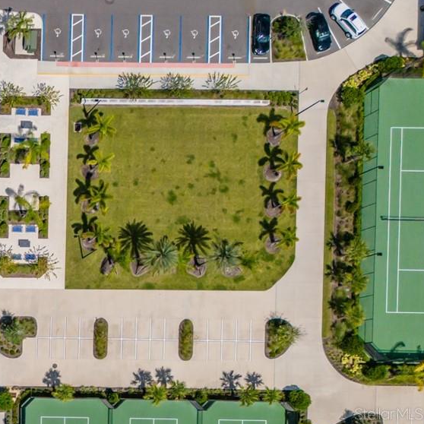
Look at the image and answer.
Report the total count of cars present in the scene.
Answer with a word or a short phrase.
3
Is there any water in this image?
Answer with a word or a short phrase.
No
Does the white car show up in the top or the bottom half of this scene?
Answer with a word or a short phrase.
top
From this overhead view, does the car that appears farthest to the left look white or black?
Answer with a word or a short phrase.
black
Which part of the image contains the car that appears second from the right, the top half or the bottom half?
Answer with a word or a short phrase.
top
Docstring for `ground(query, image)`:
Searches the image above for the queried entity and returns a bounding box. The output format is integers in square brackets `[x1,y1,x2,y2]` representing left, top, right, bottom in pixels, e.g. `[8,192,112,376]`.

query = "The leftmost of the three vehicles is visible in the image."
[254,12,276,53]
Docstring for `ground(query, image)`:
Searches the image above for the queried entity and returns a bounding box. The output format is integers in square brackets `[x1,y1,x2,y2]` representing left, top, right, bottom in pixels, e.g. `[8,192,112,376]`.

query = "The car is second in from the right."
[309,11,335,50]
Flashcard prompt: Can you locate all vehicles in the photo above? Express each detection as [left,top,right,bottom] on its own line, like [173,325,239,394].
[334,4,367,40]
[309,11,335,50]
[254,12,276,53]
